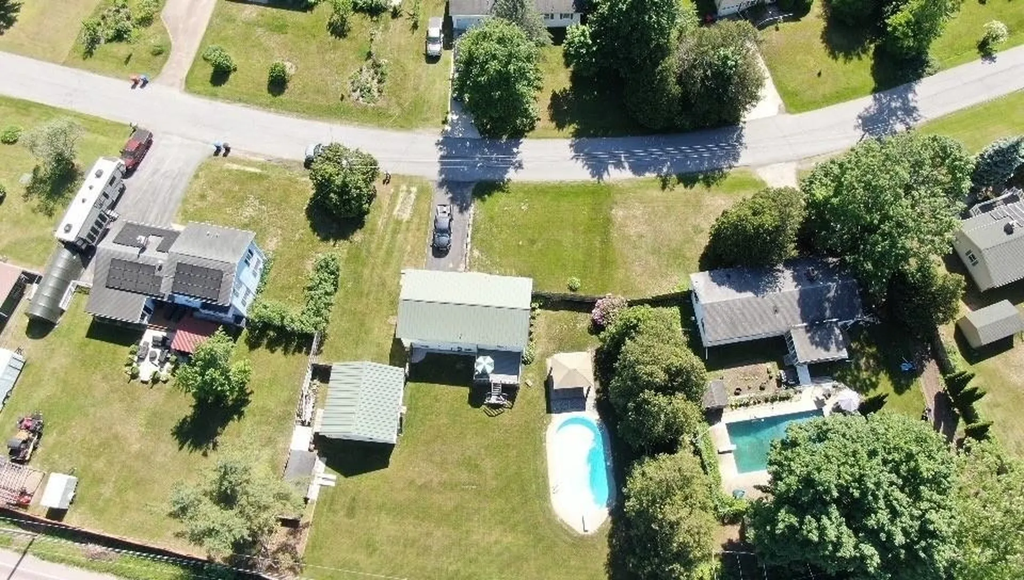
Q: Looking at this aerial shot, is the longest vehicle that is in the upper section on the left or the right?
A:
left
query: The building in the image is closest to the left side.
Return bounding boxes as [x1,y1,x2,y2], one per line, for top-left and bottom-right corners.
[0,263,32,313]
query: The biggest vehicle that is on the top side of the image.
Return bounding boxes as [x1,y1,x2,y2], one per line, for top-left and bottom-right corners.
[57,160,125,248]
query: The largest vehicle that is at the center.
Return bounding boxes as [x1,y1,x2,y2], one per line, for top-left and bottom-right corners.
[432,208,451,252]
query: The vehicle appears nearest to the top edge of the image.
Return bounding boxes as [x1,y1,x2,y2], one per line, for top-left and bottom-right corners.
[426,20,442,54]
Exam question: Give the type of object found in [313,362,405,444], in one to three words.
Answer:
building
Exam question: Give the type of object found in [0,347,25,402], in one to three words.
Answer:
trailer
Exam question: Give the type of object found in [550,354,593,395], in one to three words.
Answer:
gazebo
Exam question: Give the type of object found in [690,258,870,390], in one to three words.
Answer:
house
